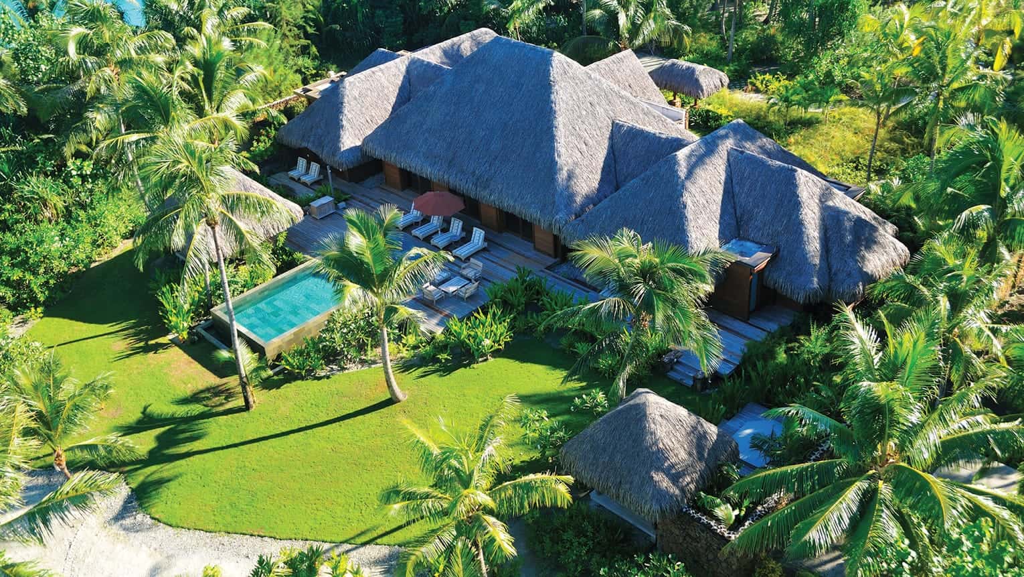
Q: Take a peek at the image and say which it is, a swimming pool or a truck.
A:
swimming pool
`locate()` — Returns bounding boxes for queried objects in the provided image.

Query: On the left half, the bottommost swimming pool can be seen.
[190,260,377,371]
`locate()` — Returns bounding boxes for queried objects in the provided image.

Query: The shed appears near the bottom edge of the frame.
[555,386,735,551]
